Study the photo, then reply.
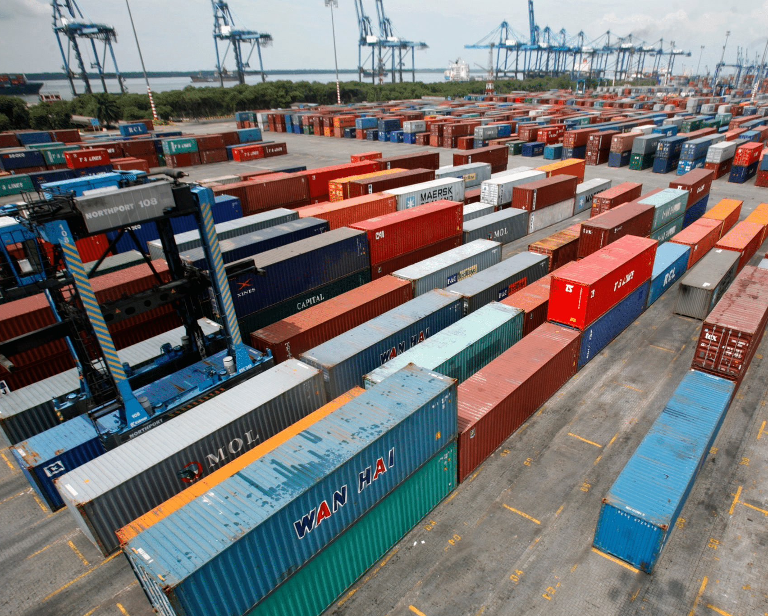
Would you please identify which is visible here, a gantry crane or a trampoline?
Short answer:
gantry crane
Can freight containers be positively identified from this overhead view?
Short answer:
Yes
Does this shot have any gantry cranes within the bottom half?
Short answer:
No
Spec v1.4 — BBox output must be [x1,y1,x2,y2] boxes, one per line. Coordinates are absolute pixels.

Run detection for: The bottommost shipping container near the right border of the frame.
[592,372,736,574]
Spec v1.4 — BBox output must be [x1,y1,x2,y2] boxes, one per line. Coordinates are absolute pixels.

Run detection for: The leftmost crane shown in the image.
[53,0,130,99]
